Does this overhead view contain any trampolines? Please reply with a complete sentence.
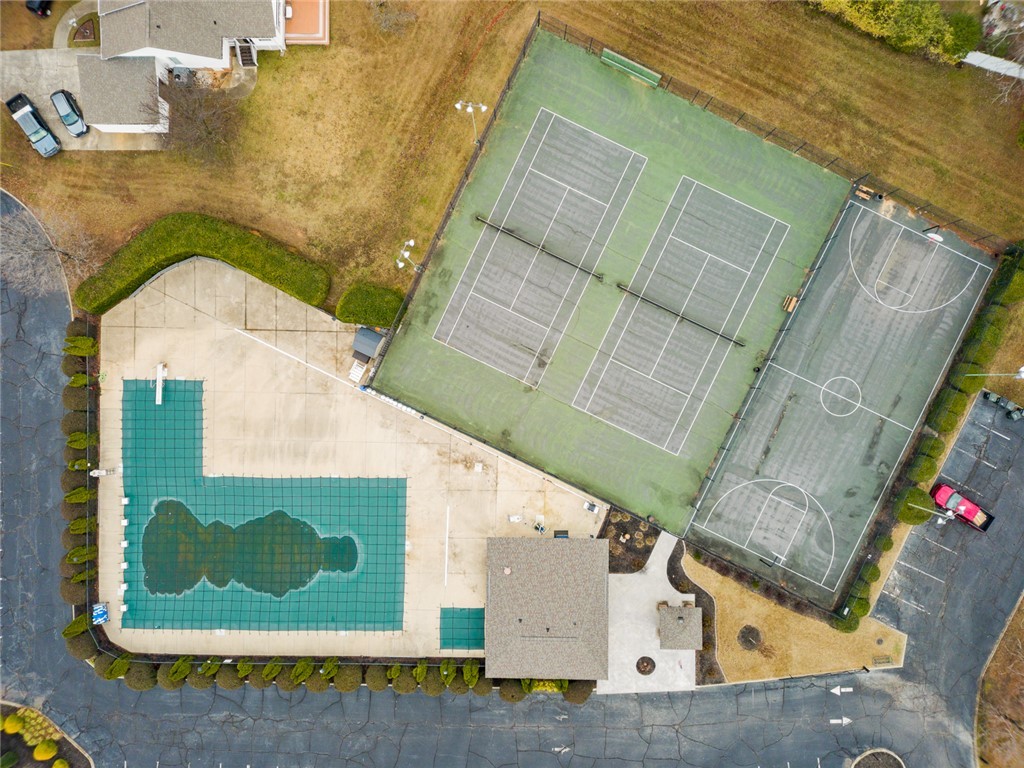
No, no trampoline is visible in the scene.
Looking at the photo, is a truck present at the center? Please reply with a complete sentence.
No, there is no truck at the center.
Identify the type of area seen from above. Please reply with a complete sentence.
It's a sports ground.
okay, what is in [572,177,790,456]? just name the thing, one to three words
tennis court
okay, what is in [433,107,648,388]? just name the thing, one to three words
tennis court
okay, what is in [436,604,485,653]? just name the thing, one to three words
swimming pool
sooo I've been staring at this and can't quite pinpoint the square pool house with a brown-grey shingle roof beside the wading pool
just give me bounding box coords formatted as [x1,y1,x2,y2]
[486,536,611,680]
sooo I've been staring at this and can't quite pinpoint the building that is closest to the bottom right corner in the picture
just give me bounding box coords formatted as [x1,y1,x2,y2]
[658,600,702,650]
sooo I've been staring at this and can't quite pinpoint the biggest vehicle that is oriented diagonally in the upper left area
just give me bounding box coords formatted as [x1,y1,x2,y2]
[4,92,62,159]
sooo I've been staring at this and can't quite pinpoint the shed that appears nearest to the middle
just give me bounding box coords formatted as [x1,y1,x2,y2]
[347,327,383,359]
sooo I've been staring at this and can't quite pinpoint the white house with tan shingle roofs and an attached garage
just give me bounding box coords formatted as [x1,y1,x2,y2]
[77,0,286,134]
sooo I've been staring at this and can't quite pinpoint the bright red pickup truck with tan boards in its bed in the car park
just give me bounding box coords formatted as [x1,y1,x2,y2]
[930,481,996,534]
